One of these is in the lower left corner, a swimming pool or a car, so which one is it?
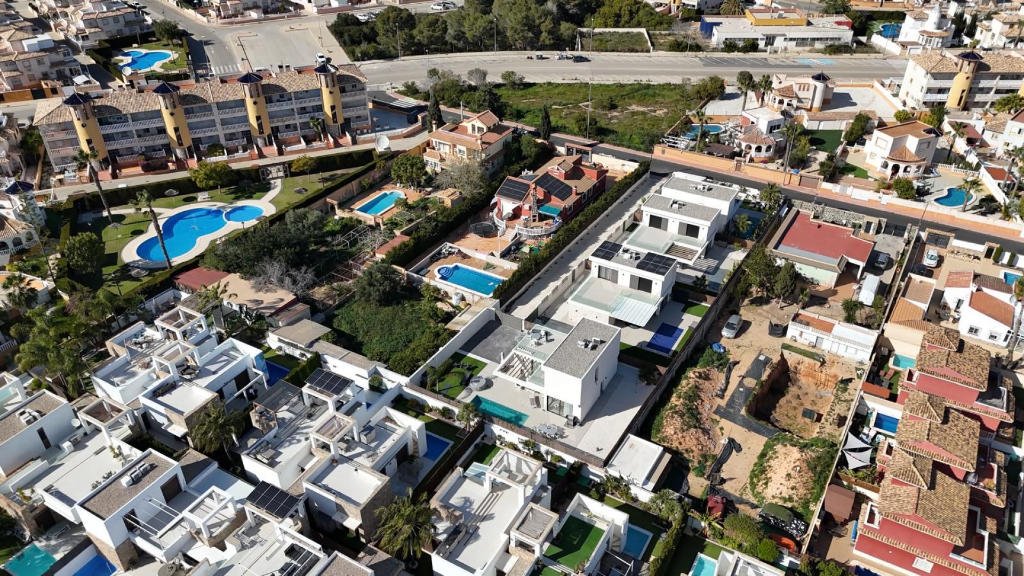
swimming pool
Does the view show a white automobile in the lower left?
No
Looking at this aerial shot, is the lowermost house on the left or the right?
right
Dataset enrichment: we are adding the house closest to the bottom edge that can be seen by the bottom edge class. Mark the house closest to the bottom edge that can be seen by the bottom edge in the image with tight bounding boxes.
[716,536,791,576]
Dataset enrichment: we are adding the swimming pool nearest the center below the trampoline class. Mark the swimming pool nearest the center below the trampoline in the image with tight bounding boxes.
[434,262,497,288]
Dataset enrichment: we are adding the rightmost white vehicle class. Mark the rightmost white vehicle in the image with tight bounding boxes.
[923,245,941,266]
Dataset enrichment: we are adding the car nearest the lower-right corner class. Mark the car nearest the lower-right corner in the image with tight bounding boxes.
[758,495,809,535]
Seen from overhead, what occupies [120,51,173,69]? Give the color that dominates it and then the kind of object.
blue swimming pool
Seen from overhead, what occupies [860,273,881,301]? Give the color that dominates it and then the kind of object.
white vehicle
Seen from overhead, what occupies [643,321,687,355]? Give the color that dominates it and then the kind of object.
blue swimming pool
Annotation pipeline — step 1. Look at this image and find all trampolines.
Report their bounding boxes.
[470,216,494,234]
